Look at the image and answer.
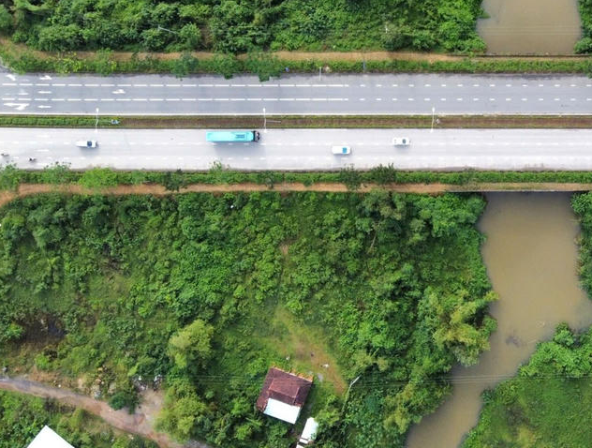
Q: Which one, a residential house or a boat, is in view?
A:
residential house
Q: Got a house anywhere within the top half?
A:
No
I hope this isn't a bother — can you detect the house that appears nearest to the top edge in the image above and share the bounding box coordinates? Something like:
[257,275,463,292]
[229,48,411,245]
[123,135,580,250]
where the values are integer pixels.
[259,366,314,421]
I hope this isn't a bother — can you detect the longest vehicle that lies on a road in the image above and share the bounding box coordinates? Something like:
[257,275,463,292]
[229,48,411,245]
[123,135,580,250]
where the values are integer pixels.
[202,131,262,144]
